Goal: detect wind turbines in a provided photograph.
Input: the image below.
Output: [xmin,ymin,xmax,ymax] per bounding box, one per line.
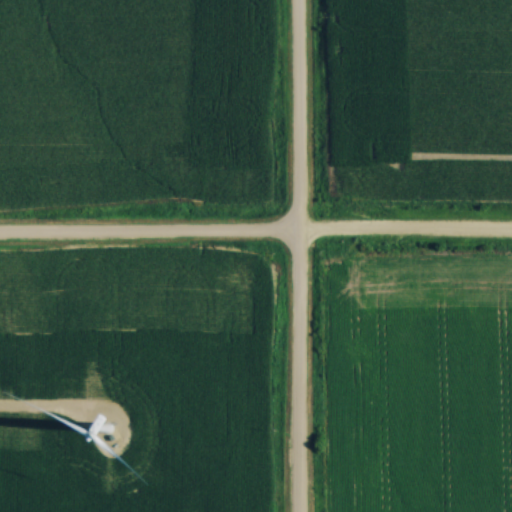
[5,390,148,486]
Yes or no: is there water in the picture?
No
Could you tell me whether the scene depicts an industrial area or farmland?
farmland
